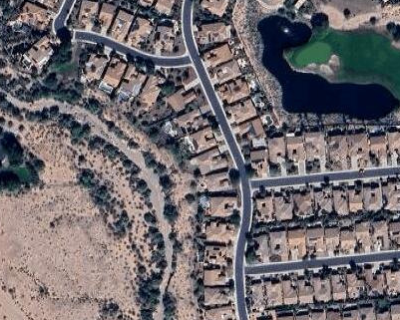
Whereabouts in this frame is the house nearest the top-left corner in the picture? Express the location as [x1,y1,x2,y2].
[20,3,55,24]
